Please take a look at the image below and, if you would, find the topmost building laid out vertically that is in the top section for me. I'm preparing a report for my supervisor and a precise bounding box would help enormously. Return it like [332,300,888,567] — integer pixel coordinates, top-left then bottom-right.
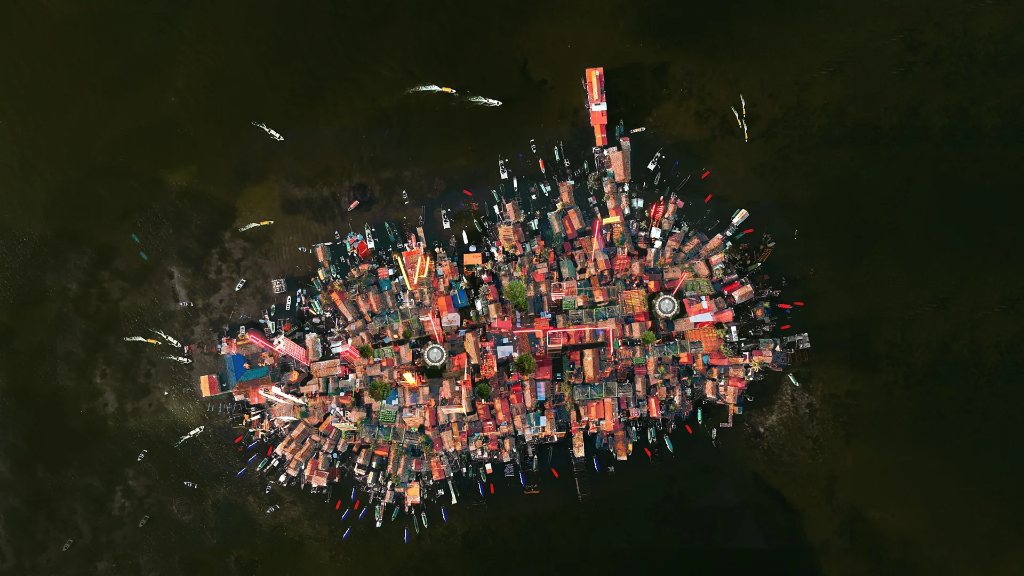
[585,66,609,126]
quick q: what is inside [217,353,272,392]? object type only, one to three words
building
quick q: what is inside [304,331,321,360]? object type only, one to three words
house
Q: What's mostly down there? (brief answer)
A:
water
